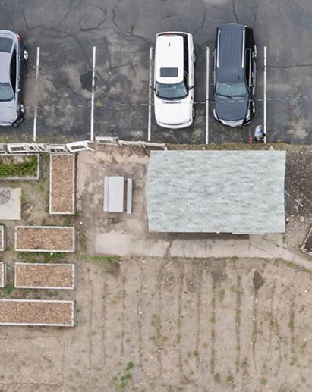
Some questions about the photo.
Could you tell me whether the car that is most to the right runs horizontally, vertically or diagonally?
vertically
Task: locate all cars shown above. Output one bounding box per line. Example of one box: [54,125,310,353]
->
[208,20,255,128]
[147,32,196,129]
[0,30,26,128]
